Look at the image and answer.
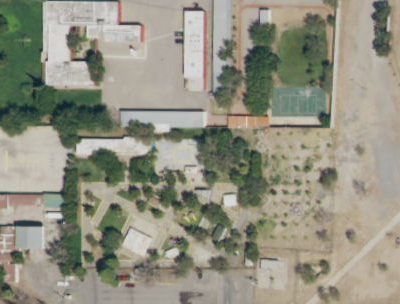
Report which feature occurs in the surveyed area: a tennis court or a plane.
tennis court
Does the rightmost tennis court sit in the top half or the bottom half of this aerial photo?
top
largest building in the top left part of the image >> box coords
[44,2,142,85]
